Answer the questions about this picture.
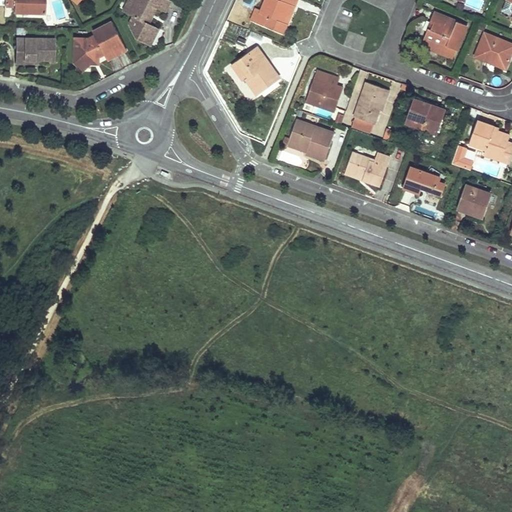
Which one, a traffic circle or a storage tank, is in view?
traffic circle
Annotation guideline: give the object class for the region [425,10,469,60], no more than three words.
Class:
house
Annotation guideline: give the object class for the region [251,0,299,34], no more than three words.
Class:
house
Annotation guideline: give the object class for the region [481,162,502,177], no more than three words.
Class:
swimming pool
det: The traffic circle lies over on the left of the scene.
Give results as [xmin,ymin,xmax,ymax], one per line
[113,104,178,164]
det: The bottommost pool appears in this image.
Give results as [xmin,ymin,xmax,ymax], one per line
[414,205,436,218]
